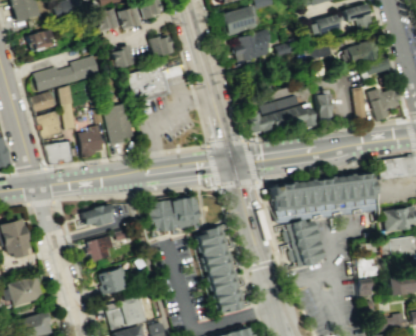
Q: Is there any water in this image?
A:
No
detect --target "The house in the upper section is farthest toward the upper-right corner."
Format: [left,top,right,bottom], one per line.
[344,2,372,30]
